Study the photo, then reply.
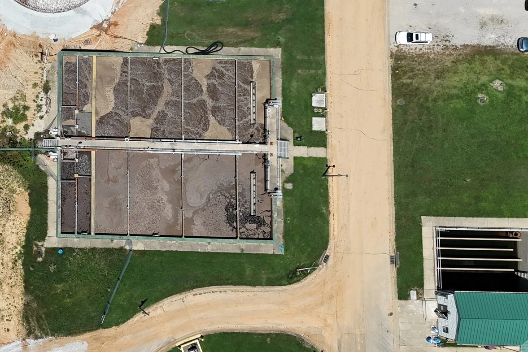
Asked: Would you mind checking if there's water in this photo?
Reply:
Yes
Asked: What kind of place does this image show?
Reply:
industrial area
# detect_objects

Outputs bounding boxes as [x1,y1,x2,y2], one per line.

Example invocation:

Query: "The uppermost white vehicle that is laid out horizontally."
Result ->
[397,27,436,45]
